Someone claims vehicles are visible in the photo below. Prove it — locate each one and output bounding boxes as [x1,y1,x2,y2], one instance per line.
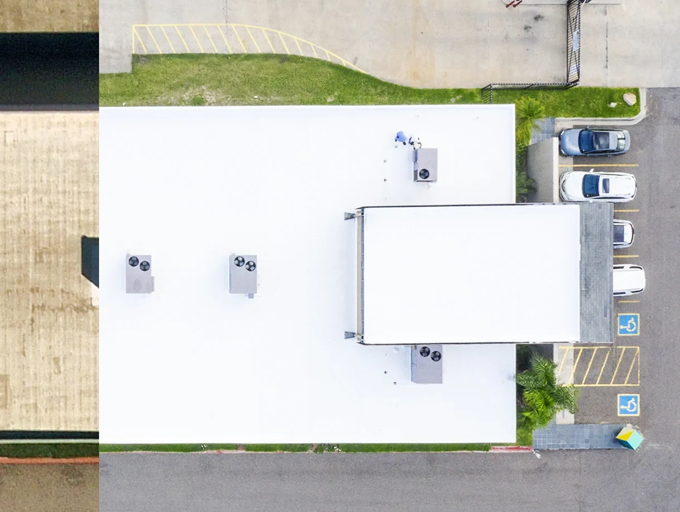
[612,219,635,248]
[560,124,631,158]
[560,168,637,203]
[612,264,647,295]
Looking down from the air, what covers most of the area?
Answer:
buildings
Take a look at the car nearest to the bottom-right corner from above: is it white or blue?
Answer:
white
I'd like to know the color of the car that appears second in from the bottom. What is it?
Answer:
white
